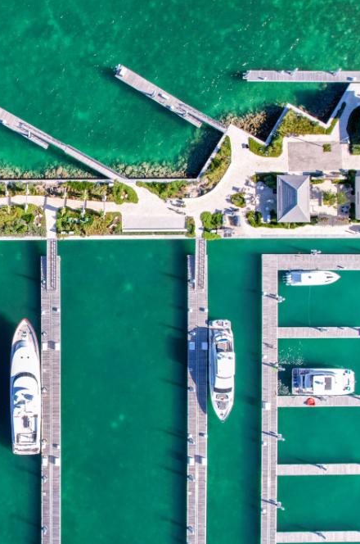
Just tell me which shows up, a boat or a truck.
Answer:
boat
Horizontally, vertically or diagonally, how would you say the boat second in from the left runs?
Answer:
vertically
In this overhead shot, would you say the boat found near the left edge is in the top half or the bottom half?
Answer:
bottom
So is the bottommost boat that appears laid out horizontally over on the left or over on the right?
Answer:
right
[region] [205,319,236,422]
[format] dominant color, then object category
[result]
white boat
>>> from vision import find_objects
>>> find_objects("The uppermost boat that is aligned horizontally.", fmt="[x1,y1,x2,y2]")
[281,270,342,286]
